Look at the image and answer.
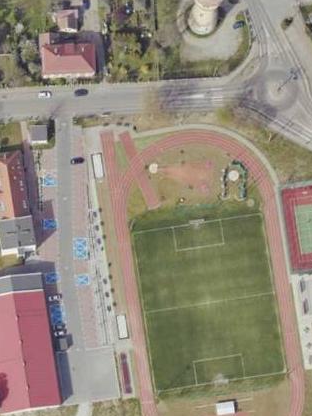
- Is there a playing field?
Yes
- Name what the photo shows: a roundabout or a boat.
roundabout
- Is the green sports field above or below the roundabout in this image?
below it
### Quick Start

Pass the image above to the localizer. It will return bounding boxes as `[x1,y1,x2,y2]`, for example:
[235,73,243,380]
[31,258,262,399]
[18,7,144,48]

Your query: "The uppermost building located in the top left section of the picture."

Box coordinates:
[57,8,78,32]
